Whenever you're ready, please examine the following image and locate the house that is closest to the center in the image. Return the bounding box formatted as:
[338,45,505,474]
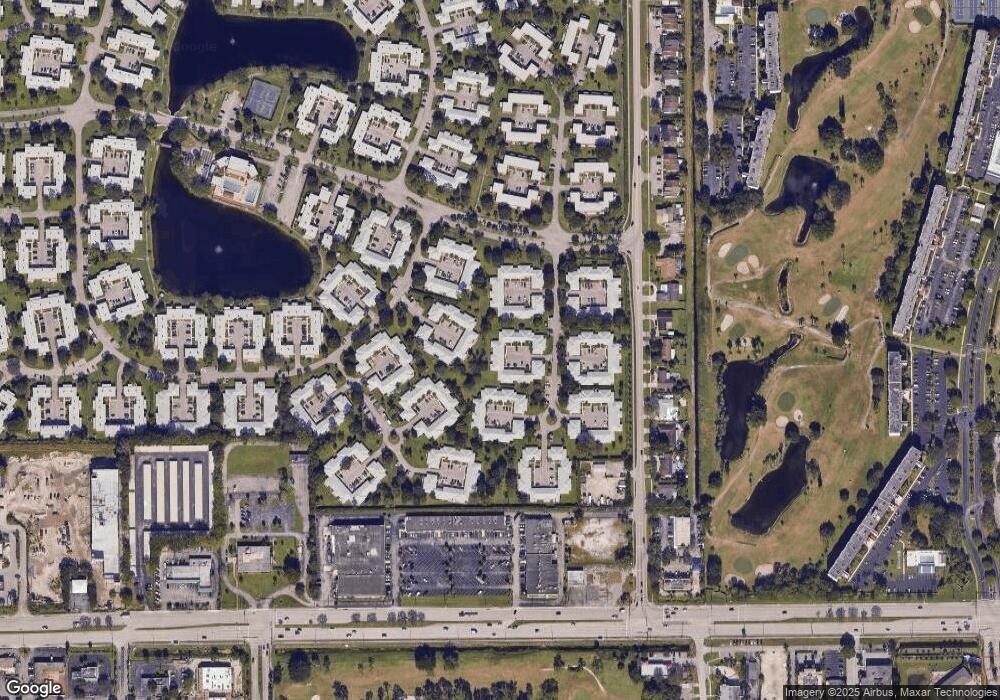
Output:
[488,328,546,384]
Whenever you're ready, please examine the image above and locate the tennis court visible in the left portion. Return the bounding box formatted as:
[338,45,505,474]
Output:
[246,79,284,119]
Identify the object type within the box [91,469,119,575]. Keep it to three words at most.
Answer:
building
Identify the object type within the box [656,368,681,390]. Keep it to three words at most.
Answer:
house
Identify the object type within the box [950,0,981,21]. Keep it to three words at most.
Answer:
tennis court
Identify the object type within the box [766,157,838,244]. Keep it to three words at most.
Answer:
pond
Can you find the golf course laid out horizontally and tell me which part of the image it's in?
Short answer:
bottom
